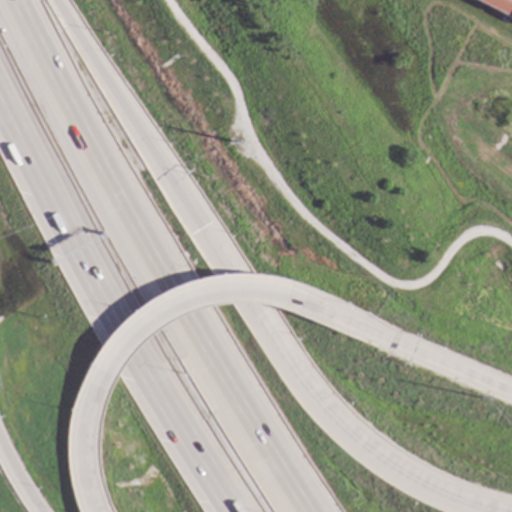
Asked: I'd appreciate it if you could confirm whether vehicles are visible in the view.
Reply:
Yes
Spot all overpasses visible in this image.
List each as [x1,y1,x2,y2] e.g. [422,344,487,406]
[68,273,344,512]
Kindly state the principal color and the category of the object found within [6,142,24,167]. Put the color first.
white vehicle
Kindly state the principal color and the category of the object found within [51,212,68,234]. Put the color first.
white vehicle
